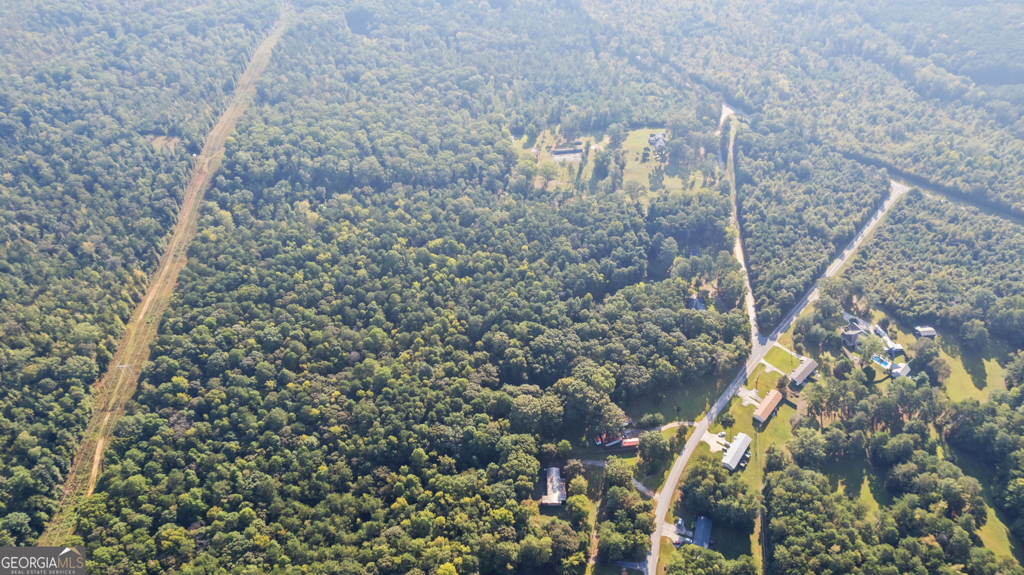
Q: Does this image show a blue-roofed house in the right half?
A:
Yes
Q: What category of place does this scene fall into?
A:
forest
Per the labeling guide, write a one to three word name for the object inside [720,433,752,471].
house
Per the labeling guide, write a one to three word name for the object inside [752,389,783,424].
house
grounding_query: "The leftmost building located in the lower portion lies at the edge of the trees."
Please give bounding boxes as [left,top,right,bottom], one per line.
[542,467,567,509]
